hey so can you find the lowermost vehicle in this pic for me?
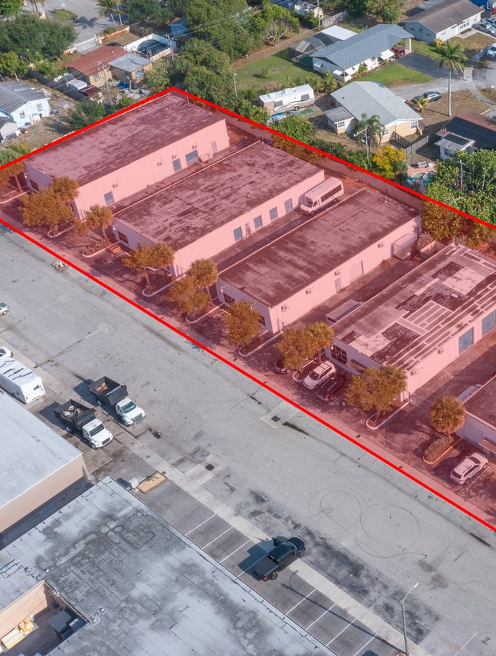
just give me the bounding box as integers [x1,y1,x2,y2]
[252,537,309,583]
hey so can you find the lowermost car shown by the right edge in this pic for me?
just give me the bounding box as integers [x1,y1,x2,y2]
[450,452,490,485]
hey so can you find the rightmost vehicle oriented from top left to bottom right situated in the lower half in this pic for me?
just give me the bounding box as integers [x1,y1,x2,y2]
[83,375,144,427]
